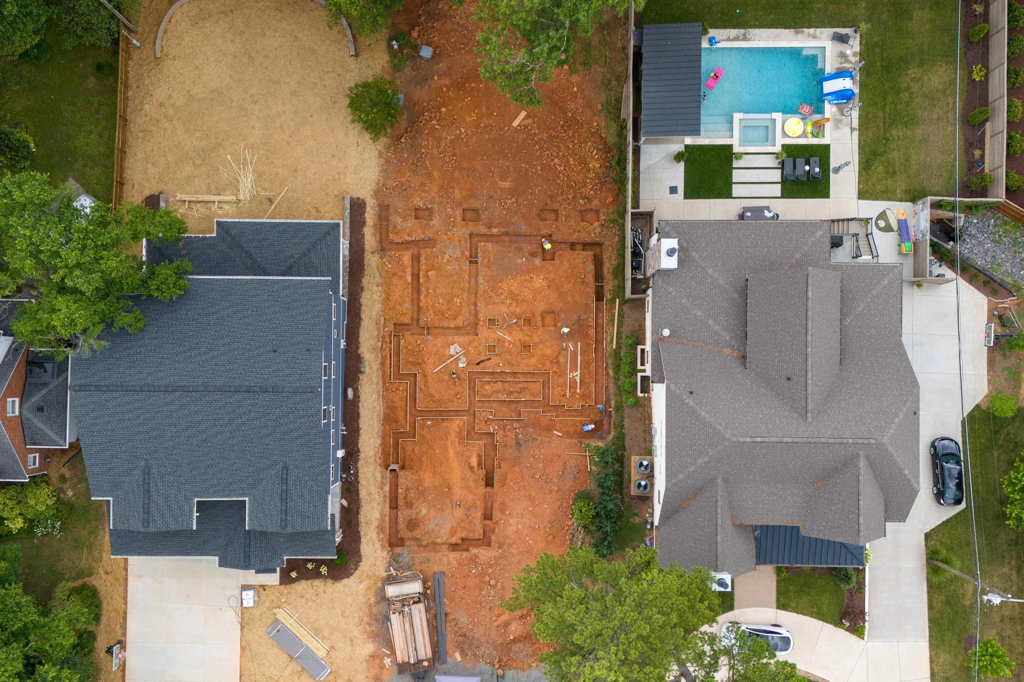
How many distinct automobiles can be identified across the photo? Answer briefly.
two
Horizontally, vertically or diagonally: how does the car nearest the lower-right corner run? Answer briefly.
vertically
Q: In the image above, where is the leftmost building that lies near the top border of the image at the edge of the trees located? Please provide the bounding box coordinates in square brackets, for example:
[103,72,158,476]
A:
[635,17,702,147]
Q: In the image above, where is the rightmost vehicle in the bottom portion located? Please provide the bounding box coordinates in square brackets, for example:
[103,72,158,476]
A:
[930,437,966,508]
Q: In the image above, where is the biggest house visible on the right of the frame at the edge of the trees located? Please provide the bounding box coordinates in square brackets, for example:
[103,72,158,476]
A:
[642,219,921,595]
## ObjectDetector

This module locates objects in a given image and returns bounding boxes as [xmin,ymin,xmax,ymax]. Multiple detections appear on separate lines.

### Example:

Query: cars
[930,437,966,508]
[722,623,795,659]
